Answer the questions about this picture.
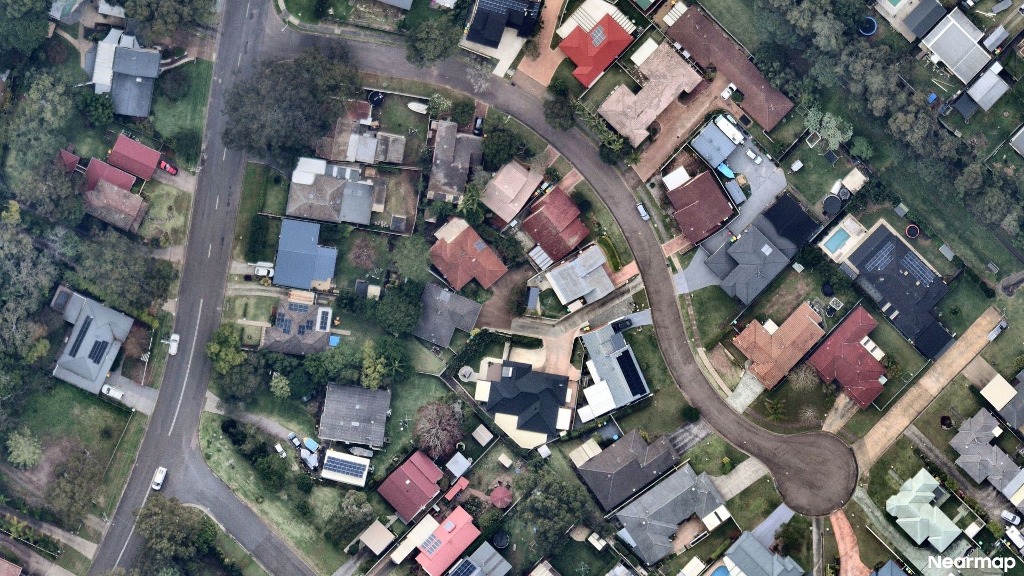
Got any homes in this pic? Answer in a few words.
Yes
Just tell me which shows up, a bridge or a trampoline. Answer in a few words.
trampoline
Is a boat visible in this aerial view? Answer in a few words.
Yes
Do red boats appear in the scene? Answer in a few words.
No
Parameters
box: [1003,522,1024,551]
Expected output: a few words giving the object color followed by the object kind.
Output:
white camper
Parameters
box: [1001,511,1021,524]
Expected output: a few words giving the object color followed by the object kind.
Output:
white vehicle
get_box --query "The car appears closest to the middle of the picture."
[614,319,633,331]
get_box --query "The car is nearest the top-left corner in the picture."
[159,161,177,175]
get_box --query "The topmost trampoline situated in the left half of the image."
[368,90,384,106]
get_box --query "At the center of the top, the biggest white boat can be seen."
[405,102,428,114]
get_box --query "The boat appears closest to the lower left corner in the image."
[302,438,319,454]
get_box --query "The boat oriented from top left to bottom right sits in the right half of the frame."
[716,164,737,180]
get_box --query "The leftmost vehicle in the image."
[101,385,124,400]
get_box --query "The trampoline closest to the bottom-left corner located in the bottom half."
[493,532,509,548]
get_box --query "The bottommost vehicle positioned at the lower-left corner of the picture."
[152,467,166,490]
